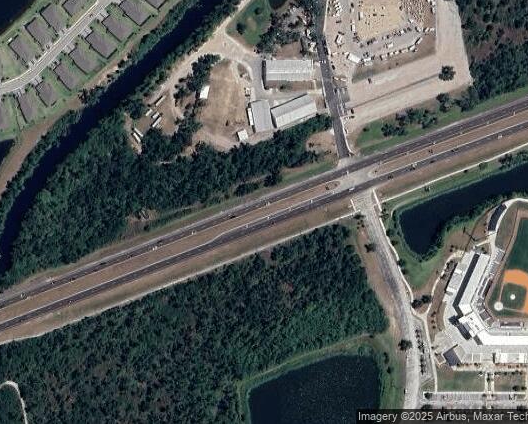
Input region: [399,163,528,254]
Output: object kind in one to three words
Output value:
pond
